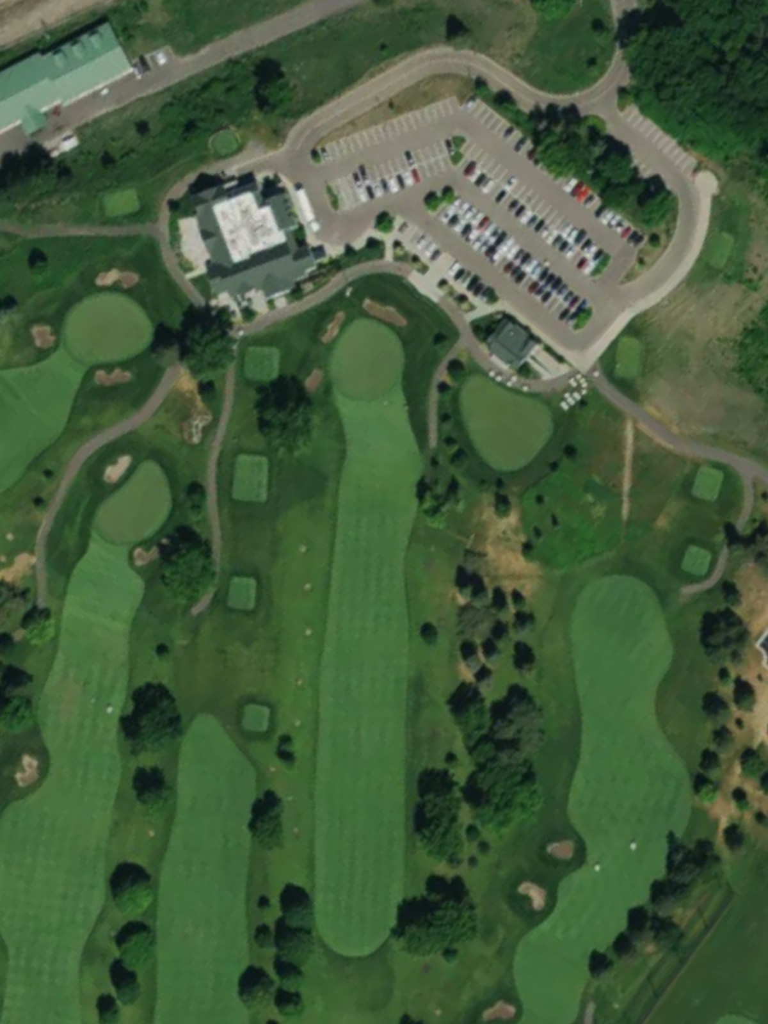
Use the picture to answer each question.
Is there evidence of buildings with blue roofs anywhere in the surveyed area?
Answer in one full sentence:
No, I can't see a single building with a blue roof in this photo.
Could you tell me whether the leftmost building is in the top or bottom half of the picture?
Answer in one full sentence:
The top half of the photo is where the leftmost building is.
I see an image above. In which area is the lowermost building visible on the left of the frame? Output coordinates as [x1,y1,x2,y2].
[194,182,326,299]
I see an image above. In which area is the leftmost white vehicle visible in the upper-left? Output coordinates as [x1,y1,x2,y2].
[51,135,78,154]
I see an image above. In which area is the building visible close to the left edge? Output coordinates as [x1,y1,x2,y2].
[0,23,133,135]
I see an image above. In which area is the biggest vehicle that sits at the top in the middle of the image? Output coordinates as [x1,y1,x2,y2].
[294,190,320,228]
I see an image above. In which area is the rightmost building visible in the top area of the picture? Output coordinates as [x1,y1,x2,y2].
[487,316,539,369]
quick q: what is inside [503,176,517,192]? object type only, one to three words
vehicle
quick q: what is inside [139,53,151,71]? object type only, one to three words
vehicle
